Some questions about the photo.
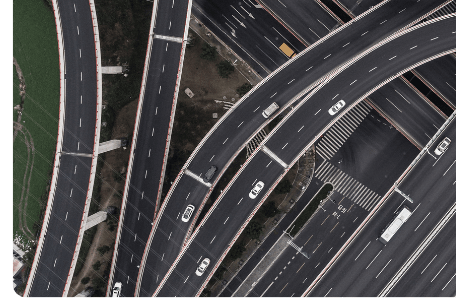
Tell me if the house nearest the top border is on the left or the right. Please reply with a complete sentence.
The house nearest the top border sits on the left side.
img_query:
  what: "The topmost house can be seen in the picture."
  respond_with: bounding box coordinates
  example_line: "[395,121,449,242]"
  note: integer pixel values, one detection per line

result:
[0,255,31,285]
